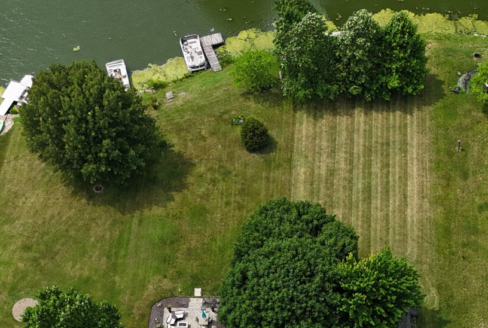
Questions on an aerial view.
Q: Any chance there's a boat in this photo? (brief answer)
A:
Yes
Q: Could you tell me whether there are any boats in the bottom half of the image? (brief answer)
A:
No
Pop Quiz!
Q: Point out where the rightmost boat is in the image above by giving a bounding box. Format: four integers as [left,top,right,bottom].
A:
[179,35,208,77]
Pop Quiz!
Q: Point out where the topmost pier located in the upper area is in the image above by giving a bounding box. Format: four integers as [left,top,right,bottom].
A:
[200,31,226,74]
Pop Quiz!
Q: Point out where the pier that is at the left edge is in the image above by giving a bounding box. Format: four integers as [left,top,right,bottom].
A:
[0,79,20,119]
